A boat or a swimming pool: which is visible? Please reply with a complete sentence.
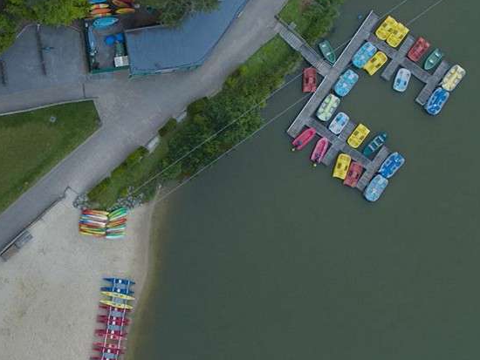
Visible in the photo is a boat.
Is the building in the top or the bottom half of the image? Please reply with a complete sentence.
You can find the building in the top half.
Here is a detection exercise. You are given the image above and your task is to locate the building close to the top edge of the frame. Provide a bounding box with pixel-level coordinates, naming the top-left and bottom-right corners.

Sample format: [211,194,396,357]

[123,0,250,80]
